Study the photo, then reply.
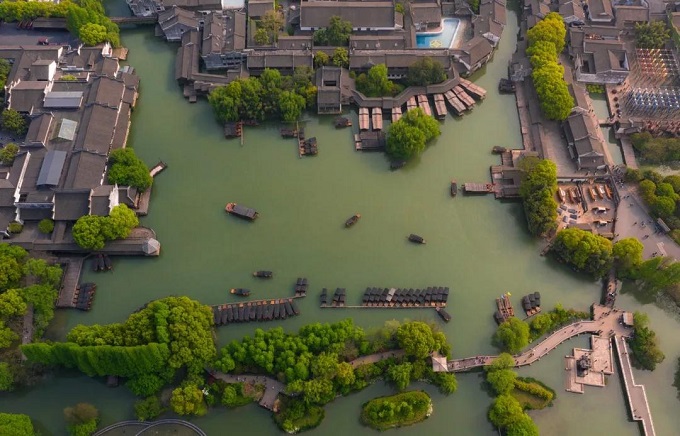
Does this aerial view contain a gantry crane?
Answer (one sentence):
No, this view has no gantry crane in it.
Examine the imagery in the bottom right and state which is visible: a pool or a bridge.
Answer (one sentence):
There is a bridge in the bottom right.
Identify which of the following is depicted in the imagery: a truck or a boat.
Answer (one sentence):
The image shows a boat.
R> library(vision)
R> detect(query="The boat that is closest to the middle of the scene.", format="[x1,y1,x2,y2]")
[344,214,361,233]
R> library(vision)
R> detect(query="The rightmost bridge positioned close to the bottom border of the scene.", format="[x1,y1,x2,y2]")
[612,336,657,436]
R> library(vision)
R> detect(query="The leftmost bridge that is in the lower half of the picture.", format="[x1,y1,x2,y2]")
[447,319,602,371]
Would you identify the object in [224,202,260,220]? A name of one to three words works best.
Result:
boat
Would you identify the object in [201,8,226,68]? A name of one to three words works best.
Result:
house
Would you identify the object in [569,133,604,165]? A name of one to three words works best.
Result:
house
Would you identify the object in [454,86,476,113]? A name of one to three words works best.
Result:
boat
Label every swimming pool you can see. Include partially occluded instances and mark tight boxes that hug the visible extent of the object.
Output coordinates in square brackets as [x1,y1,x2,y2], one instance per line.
[416,19,460,49]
